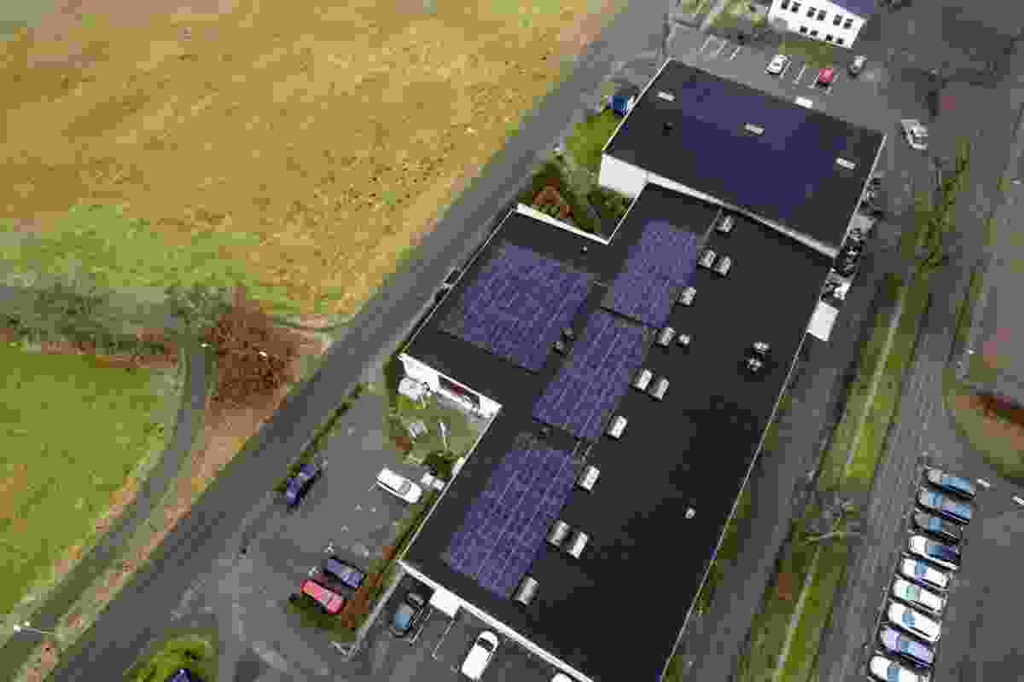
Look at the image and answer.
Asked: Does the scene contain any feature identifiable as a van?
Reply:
Yes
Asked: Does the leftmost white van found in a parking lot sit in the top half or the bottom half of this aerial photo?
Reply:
bottom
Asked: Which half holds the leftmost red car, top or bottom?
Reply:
bottom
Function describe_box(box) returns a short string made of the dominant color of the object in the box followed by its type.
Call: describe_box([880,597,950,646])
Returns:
white car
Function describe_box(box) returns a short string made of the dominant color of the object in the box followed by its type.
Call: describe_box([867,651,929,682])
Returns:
white car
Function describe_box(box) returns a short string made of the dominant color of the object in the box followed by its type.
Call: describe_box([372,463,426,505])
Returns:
white van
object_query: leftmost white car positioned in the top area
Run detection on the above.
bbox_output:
[769,53,790,74]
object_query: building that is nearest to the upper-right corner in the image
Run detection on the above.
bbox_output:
[769,0,877,46]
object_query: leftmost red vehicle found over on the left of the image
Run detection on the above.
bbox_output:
[299,575,350,617]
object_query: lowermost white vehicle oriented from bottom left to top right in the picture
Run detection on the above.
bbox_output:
[456,627,501,682]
